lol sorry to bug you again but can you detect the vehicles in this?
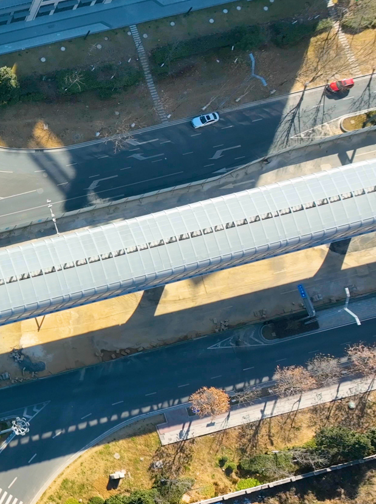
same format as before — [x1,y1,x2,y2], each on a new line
[191,113,219,129]
[327,80,353,96]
